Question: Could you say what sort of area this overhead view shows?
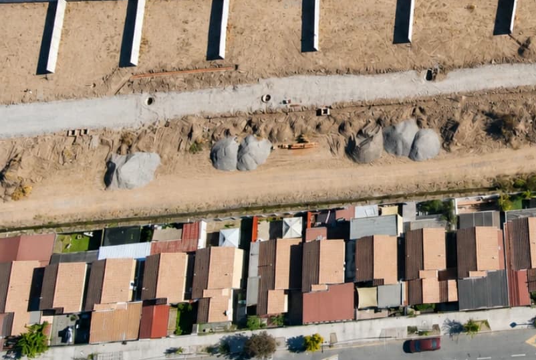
residential area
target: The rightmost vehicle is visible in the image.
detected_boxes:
[409,337,439,353]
